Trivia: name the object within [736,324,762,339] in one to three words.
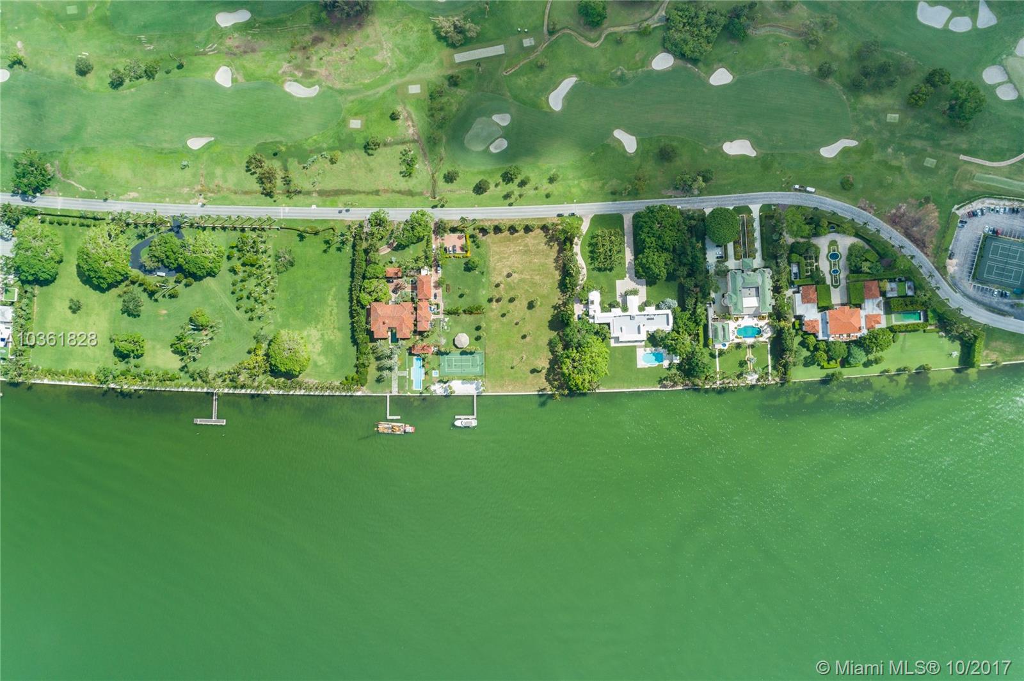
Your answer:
swimming pool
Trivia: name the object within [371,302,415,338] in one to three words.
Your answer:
house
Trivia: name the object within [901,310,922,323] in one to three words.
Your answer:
swimming pool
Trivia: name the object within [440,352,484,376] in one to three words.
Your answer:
tennis court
